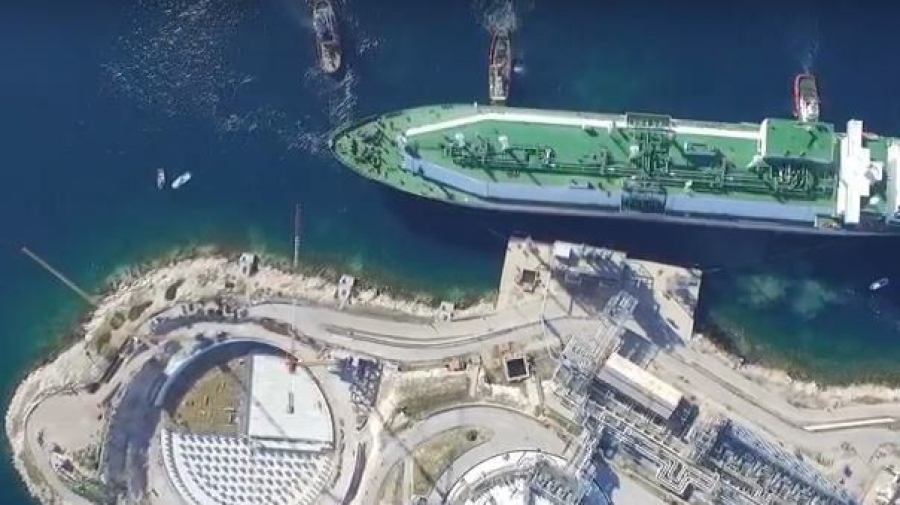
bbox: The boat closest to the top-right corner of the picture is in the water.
[795,69,825,122]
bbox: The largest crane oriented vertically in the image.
[283,201,345,411]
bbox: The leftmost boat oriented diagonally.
[168,171,190,190]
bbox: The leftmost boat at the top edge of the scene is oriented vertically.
[305,0,339,76]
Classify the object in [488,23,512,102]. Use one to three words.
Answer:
boat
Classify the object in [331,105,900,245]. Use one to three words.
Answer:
ship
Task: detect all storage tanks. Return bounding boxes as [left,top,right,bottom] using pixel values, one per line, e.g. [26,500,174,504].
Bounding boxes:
[156,335,340,505]
[439,444,609,505]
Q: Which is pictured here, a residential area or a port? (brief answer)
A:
port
